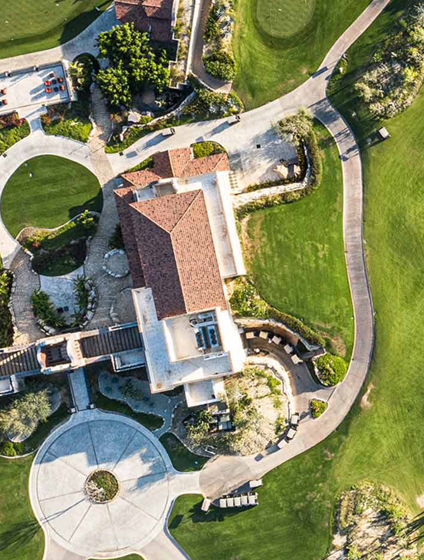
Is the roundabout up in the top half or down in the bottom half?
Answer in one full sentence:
The roundabout is in the bottom half of the image.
